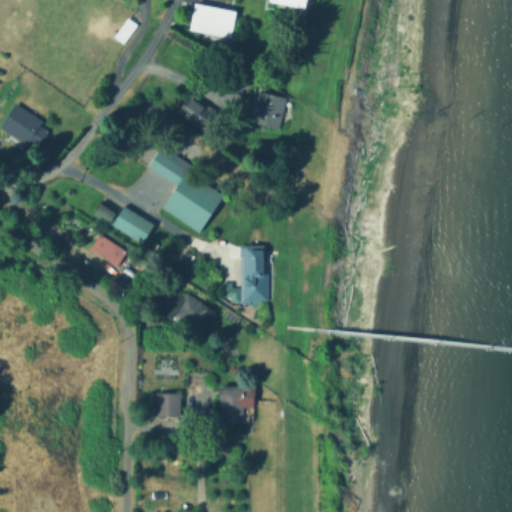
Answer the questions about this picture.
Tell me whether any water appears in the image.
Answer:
Yes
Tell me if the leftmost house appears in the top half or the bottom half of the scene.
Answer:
top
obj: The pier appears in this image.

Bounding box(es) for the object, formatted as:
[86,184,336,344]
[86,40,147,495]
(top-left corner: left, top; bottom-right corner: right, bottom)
[288,326,512,352]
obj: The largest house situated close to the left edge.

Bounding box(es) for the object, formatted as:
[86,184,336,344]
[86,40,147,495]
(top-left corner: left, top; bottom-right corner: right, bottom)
[1,104,48,146]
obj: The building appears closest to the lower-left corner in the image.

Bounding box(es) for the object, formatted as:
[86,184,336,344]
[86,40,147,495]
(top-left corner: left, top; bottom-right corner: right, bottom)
[156,394,182,418]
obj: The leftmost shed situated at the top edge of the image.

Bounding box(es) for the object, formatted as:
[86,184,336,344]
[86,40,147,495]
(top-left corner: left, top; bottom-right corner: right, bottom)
[114,18,138,44]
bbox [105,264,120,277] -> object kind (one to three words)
vehicle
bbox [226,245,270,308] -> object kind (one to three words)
house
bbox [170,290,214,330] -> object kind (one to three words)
house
